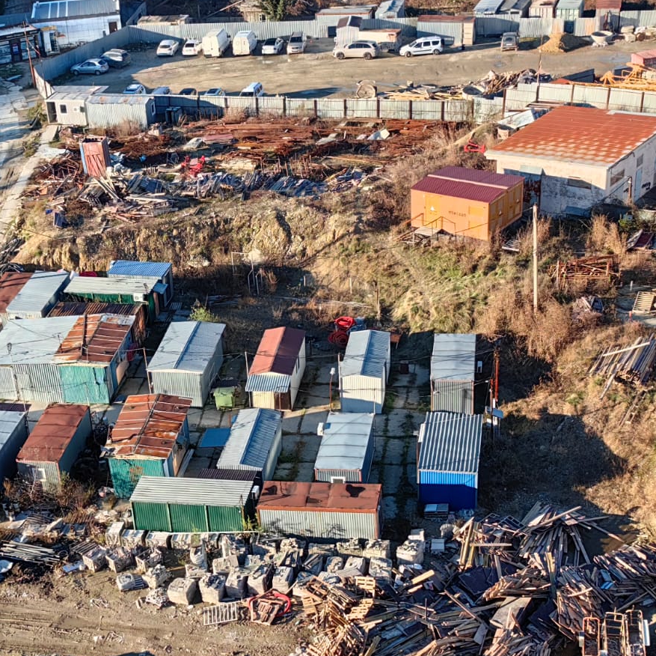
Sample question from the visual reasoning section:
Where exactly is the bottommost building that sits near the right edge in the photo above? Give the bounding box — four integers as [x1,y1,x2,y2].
[482,102,656,216]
